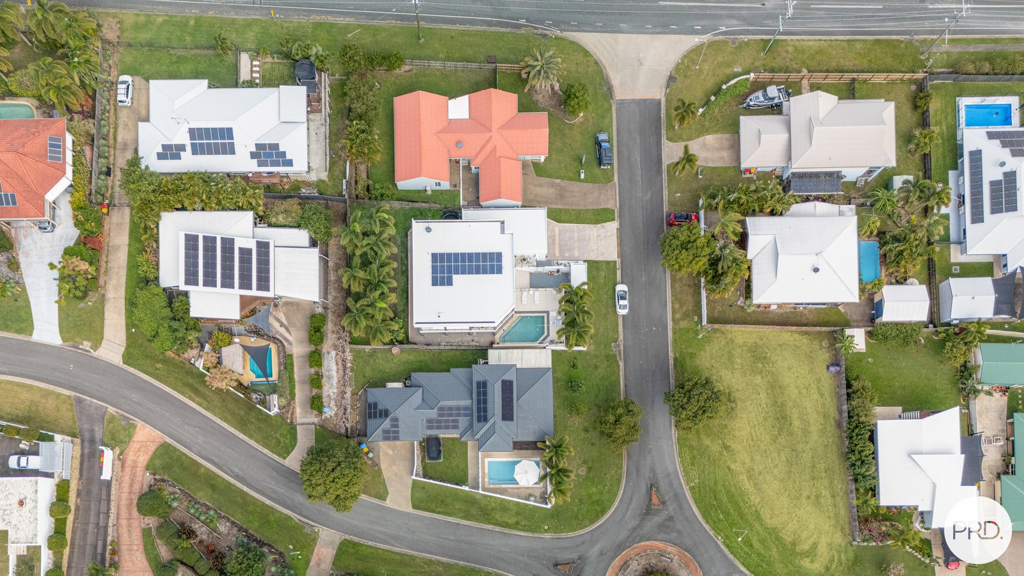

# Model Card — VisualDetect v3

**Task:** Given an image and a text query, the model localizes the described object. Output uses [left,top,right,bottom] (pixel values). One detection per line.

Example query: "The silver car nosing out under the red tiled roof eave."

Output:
[38,207,54,238]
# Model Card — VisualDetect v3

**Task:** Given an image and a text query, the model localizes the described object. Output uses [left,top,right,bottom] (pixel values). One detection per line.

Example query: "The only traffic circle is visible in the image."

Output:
[606,541,703,576]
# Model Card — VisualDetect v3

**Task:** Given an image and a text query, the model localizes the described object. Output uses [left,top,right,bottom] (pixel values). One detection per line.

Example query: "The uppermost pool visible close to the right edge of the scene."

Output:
[963,101,1015,128]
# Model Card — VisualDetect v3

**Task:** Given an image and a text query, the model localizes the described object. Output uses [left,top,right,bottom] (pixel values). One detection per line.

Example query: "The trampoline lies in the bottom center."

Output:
[425,436,443,464]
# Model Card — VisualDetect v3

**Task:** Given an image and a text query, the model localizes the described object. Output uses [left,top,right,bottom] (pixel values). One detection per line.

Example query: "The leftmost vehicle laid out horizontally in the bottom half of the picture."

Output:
[10,454,40,469]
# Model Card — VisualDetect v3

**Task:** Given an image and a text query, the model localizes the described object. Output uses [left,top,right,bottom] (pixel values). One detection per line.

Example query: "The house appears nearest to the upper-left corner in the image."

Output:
[0,118,81,227]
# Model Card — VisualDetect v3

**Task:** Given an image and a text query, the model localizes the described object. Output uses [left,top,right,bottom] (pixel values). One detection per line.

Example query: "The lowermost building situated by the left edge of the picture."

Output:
[0,476,53,545]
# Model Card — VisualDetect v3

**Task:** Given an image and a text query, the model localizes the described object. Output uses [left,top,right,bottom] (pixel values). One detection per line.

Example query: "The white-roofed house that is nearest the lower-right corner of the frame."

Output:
[872,406,977,528]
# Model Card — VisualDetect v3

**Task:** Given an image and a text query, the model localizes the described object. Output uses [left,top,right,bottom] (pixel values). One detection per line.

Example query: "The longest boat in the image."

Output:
[742,80,798,105]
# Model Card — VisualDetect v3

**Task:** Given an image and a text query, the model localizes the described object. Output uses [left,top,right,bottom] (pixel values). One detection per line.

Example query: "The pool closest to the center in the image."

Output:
[498,313,546,345]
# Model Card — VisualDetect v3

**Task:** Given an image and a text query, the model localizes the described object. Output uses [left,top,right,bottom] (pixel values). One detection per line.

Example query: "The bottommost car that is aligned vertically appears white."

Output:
[614,283,629,315]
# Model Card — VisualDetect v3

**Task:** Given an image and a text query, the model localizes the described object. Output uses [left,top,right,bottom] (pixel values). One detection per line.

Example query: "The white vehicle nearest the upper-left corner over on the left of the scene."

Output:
[117,76,133,107]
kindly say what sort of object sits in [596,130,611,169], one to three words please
vehicle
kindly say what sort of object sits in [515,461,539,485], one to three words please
umbrella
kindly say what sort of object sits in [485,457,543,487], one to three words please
swimming pool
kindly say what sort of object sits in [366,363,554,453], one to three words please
house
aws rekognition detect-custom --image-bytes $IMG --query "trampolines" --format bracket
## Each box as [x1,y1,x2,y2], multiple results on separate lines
[425,436,443,464]
[441,201,460,219]
[293,58,317,92]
